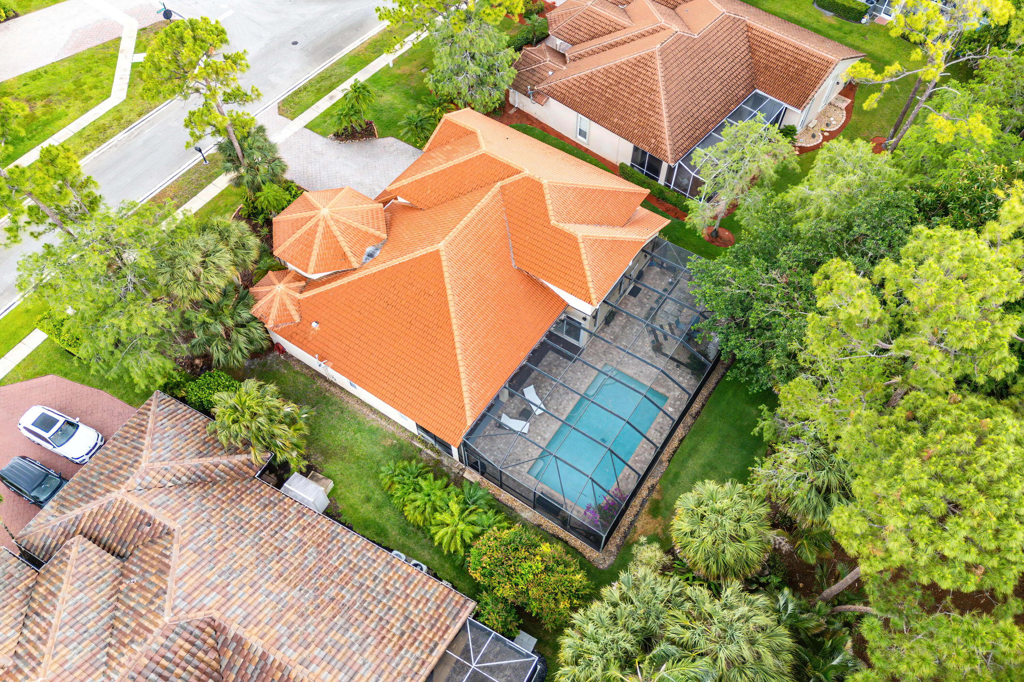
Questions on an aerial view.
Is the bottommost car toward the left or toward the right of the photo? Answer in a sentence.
You can find the bottommost car on the left side of the picture.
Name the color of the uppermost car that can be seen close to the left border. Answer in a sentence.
The color of the uppermost car that can be seen close to the left border is white.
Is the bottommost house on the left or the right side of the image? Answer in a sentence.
You can find the bottommost house on the left side of the picture.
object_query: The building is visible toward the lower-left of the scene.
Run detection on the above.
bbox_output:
[0,387,479,682]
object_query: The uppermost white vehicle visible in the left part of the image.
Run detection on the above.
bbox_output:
[13,401,106,468]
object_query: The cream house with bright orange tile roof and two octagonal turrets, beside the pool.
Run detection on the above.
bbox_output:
[252,106,673,463]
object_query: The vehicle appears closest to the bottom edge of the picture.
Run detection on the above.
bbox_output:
[0,452,70,511]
